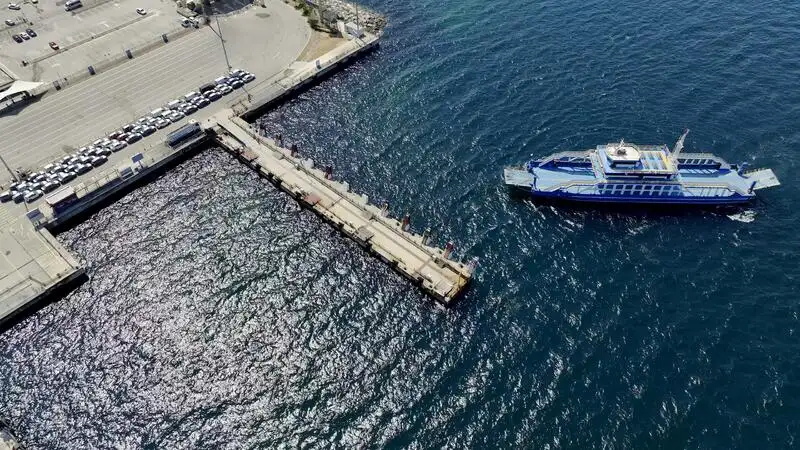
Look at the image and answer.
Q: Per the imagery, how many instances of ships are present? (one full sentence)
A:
In total, there is 1 ship in the scene.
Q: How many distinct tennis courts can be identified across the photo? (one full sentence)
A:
The photo contains no tennis courts.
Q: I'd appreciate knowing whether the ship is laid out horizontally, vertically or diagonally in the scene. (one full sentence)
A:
The ship has been laid out horizontally relative to the frame.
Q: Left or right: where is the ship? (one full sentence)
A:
The ship appears in the right half of the scene.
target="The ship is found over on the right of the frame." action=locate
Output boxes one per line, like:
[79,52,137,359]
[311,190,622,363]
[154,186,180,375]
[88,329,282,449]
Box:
[503,132,788,203]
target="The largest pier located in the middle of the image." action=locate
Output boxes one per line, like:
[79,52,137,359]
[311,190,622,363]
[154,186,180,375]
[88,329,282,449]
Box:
[208,117,480,303]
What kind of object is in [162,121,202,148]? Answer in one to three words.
bus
